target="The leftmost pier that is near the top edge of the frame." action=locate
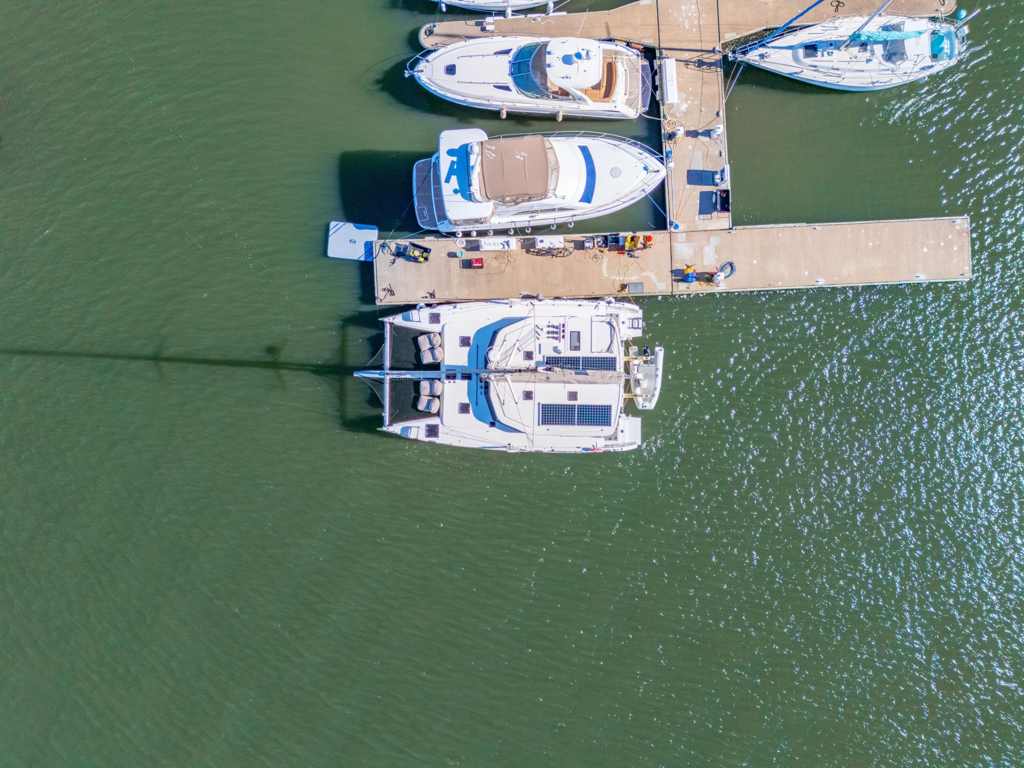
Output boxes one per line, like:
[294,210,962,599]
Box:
[420,0,657,51]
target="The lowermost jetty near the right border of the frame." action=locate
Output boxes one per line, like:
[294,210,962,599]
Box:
[670,216,977,294]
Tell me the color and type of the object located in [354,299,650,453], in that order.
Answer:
white boat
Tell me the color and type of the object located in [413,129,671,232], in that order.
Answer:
white boat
